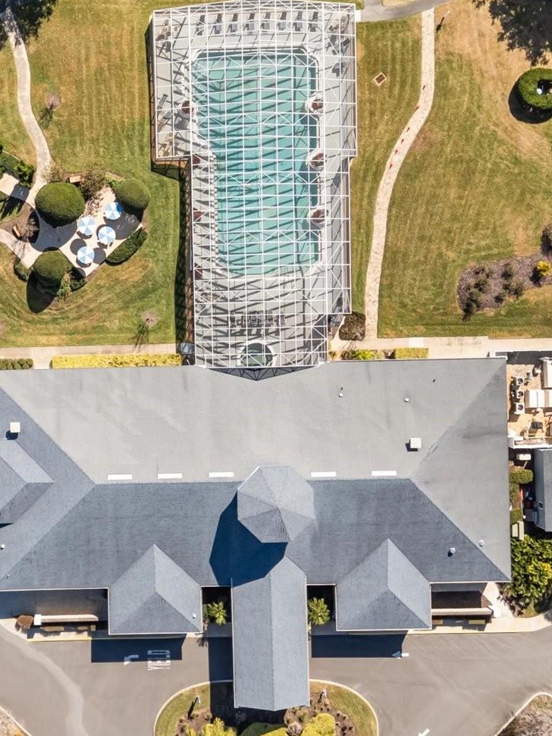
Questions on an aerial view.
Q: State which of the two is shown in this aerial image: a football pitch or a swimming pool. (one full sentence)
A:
There is a swimming pool in the scene.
